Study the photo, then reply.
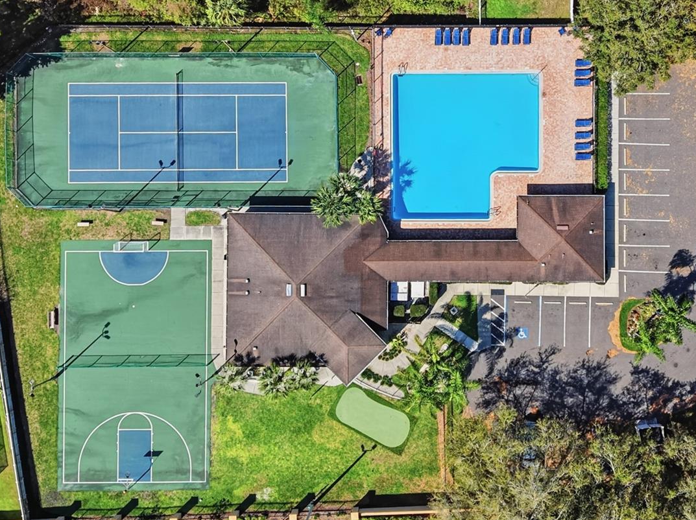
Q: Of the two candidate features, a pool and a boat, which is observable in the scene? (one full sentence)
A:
There is a pool in the scene.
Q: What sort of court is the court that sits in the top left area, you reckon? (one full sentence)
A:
Looking closely, the court that sits in the top left area is a tennis court.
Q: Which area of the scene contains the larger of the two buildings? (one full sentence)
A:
You can find the larger of the two buildings in the center area of the picture.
